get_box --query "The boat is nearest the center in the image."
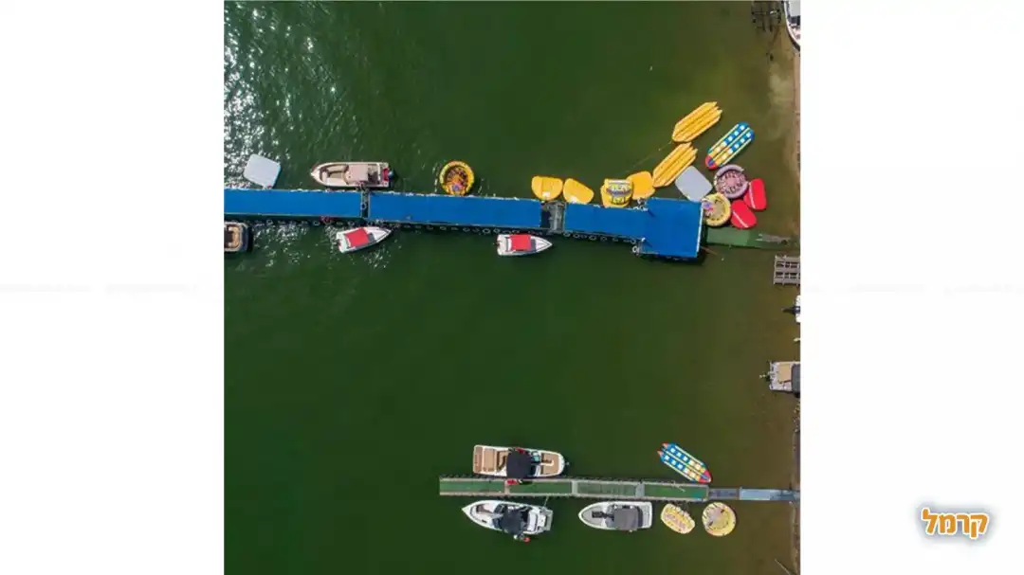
[490,234,553,256]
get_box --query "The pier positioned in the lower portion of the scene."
[440,478,802,506]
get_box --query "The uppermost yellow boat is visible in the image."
[670,97,726,144]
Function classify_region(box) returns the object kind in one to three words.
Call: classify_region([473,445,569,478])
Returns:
boat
